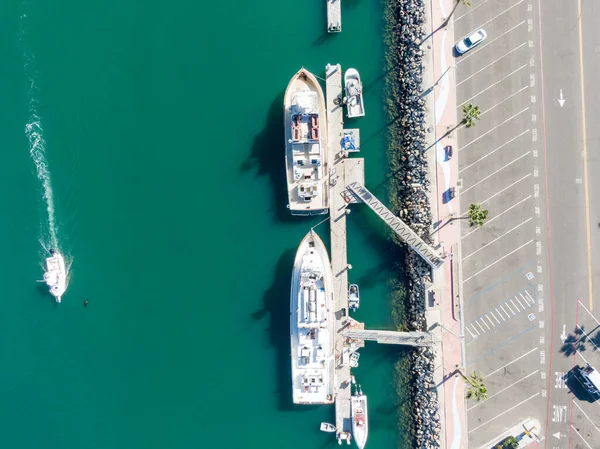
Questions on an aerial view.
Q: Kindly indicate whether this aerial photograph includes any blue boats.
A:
No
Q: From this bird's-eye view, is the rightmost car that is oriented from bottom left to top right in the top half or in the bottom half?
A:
top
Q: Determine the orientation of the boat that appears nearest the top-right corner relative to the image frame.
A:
up and down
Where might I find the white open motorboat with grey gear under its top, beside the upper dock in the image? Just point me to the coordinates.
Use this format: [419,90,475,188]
[341,67,365,120]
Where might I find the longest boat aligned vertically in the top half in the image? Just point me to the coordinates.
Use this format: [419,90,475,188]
[284,64,331,217]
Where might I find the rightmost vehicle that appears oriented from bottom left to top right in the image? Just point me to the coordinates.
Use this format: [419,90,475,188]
[455,26,489,54]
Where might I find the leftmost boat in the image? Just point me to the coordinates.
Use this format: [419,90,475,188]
[36,250,67,304]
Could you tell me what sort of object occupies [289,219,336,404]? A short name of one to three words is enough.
boat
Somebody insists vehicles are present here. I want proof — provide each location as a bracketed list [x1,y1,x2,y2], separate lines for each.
[580,362,600,393]
[455,26,489,54]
